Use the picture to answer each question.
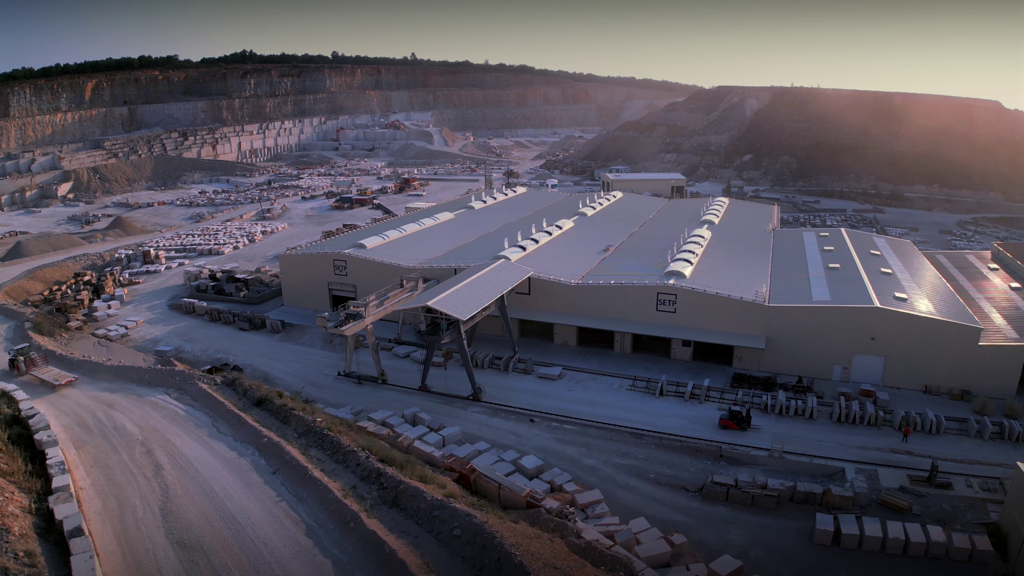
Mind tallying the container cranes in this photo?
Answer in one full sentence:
Looking from above, you can make out 2 container cranes.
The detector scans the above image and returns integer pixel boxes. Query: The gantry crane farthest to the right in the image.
[384,257,531,404]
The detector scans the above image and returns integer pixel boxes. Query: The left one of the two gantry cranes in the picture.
[296,262,452,383]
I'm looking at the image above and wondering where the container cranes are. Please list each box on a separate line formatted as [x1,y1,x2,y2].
[384,257,531,404]
[296,262,452,383]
